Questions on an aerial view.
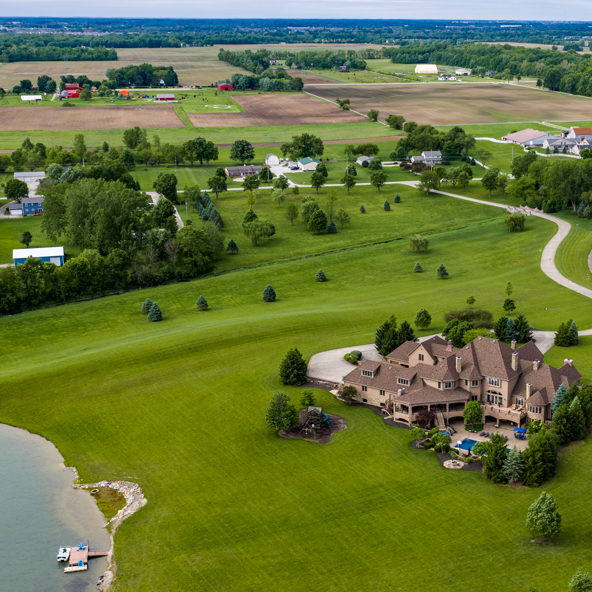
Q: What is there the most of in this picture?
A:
grass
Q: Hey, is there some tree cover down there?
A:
Yes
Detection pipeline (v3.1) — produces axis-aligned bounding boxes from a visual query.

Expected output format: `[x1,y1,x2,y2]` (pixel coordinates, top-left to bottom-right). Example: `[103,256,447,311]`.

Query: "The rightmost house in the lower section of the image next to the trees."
[343,336,583,433]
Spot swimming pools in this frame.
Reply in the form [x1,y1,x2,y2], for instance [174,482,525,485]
[453,437,478,452]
